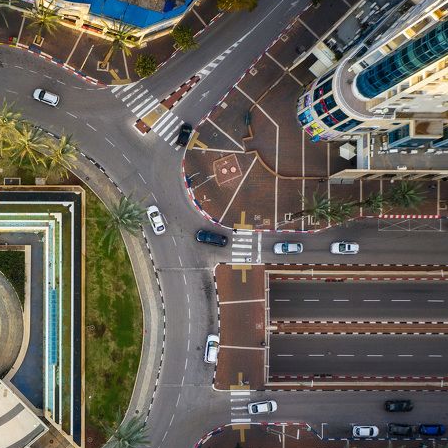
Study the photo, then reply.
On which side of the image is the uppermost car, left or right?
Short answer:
left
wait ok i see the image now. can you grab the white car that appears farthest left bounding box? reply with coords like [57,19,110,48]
[31,86,62,106]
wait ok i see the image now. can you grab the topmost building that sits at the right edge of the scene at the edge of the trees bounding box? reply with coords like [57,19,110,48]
[296,0,448,144]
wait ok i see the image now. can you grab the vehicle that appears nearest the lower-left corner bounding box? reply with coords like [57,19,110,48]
[206,336,222,362]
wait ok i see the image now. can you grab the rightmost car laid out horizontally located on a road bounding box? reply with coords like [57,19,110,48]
[421,425,447,437]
